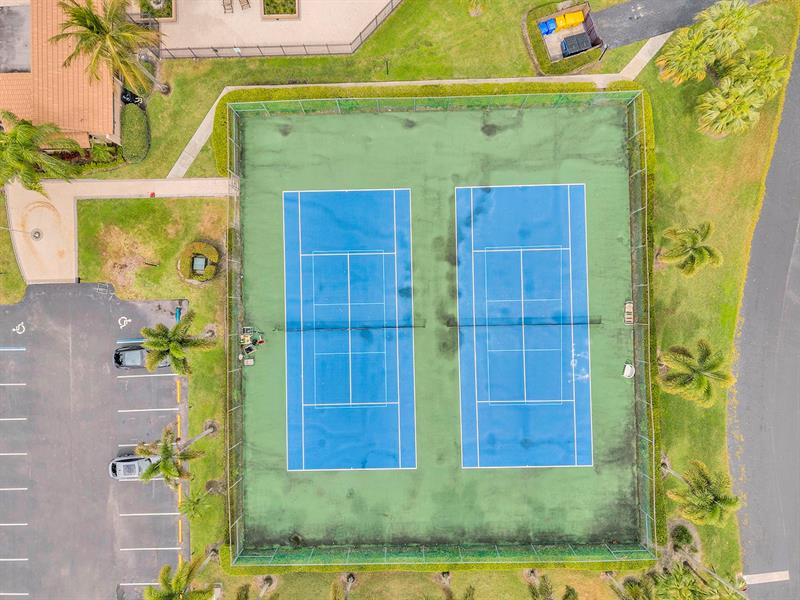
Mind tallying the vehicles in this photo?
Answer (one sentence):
In total, 2 vehicles can be seen.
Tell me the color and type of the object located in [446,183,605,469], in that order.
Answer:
blue tennis court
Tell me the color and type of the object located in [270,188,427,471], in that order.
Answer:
blue tennis court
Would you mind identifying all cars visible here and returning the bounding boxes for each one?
[115,344,173,371]
[112,454,162,482]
